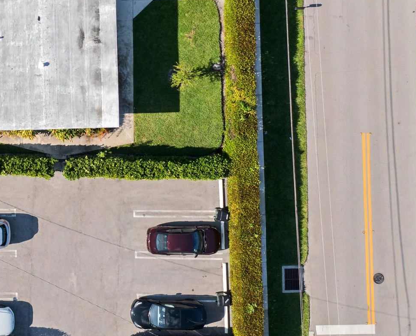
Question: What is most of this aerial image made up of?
paved ground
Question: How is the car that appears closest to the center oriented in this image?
horizontally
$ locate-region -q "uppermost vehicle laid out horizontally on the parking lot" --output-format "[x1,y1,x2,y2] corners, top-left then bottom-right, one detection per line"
[145,223,221,259]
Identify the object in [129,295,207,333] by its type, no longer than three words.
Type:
car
